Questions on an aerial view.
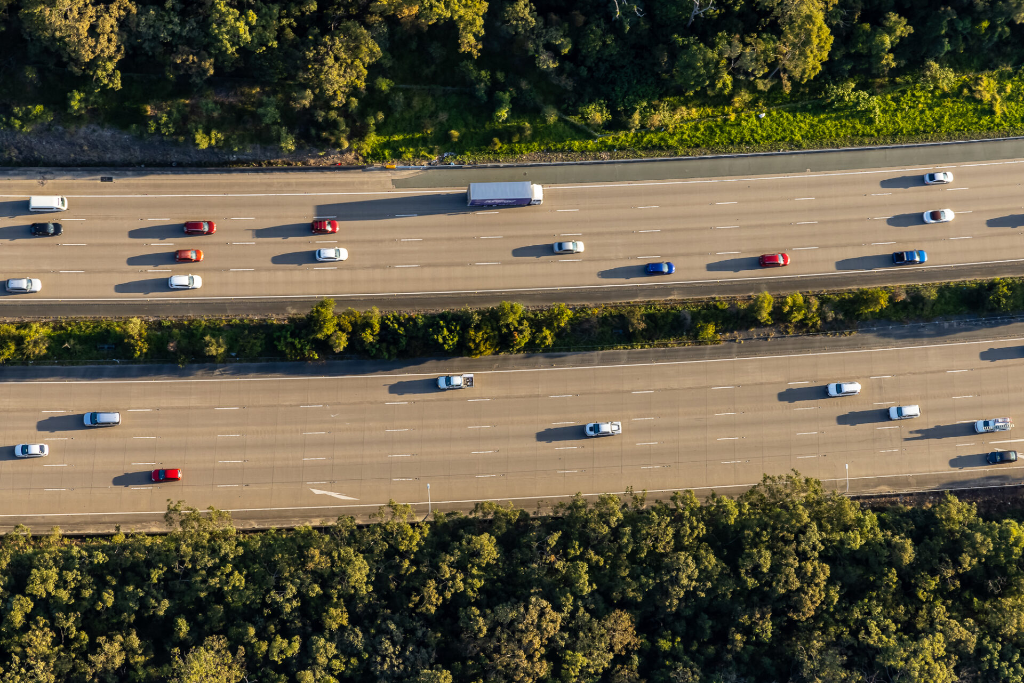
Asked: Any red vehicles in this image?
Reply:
Yes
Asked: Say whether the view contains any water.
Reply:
No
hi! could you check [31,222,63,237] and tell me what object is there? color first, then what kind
black car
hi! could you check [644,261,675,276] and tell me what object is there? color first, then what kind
blue car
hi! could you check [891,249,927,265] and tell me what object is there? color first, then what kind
blue vehicle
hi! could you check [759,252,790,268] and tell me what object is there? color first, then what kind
red car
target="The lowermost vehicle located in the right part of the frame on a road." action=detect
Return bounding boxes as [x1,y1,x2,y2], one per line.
[986,450,1018,465]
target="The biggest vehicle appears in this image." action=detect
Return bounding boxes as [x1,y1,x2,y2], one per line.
[467,182,541,207]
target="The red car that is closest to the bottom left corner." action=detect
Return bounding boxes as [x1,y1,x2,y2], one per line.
[152,468,182,482]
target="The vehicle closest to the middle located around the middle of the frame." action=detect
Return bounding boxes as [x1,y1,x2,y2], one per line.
[437,374,474,390]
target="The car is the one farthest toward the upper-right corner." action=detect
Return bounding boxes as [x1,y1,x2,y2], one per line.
[923,171,954,186]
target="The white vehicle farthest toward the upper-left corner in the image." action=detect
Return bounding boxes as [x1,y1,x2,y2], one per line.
[29,196,68,213]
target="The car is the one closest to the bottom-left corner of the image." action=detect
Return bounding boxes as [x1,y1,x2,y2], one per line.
[15,443,49,458]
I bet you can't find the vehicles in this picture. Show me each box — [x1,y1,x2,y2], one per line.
[84,411,122,427]
[759,252,790,268]
[6,277,41,293]
[316,247,348,262]
[437,374,474,390]
[169,274,202,289]
[922,209,954,224]
[584,422,622,437]
[152,468,182,482]
[553,240,584,255]
[467,182,541,207]
[15,443,49,458]
[184,220,216,235]
[175,248,204,263]
[29,196,68,213]
[644,261,675,276]
[974,417,1012,434]
[825,382,861,397]
[891,249,927,265]
[311,219,339,234]
[31,222,63,237]
[923,171,954,186]
[986,450,1018,465]
[887,405,922,421]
